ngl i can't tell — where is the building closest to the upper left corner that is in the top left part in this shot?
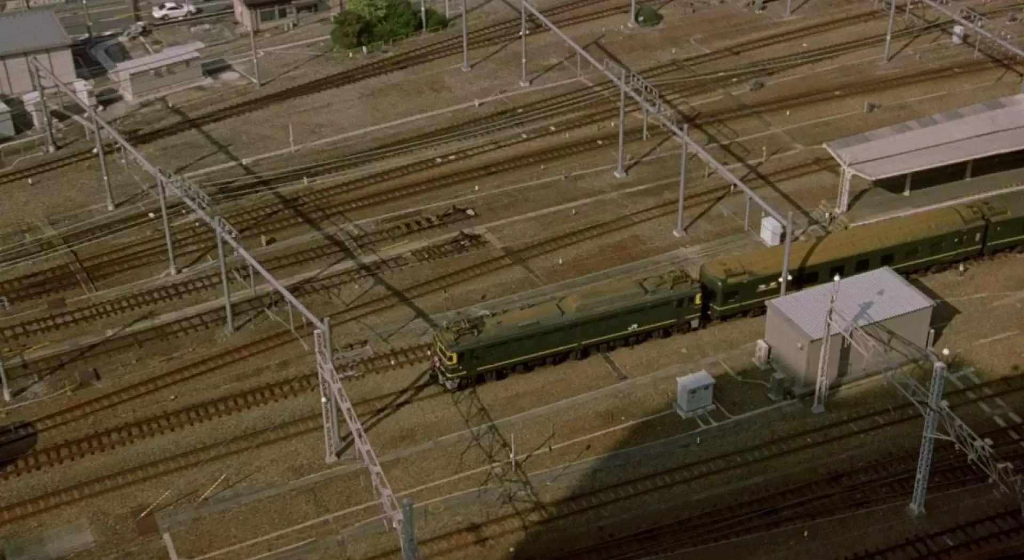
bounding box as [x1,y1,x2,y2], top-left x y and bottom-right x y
[0,9,77,97]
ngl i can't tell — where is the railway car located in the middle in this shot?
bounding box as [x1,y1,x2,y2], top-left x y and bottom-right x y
[429,267,701,388]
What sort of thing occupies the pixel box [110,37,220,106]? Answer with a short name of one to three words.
building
